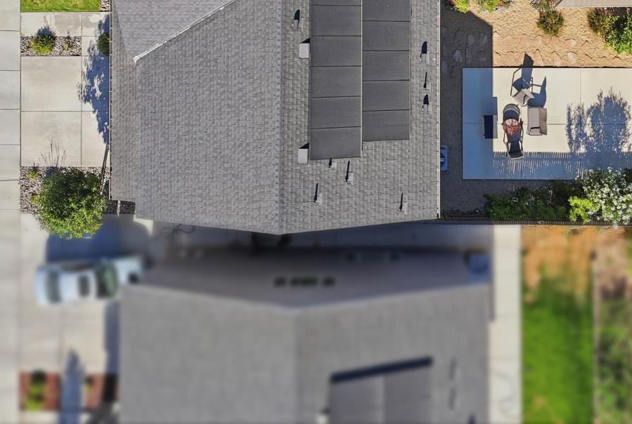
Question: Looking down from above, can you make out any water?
No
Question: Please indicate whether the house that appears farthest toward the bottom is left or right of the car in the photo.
right of it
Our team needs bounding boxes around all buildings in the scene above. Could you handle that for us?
[108,0,443,234]
[116,249,494,424]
